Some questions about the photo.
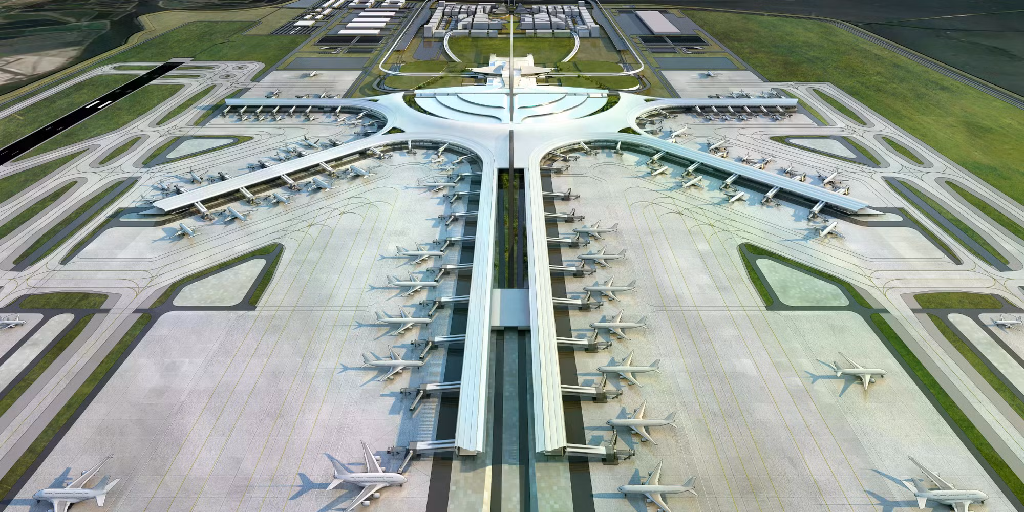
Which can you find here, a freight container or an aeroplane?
aeroplane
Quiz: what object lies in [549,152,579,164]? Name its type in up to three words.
jet bridge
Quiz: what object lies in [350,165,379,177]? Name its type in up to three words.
airplane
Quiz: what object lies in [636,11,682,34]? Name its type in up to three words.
hangar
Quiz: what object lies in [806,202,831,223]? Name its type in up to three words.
jet bridge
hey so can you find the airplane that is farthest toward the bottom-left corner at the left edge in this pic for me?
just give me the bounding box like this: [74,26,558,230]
[33,454,119,512]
